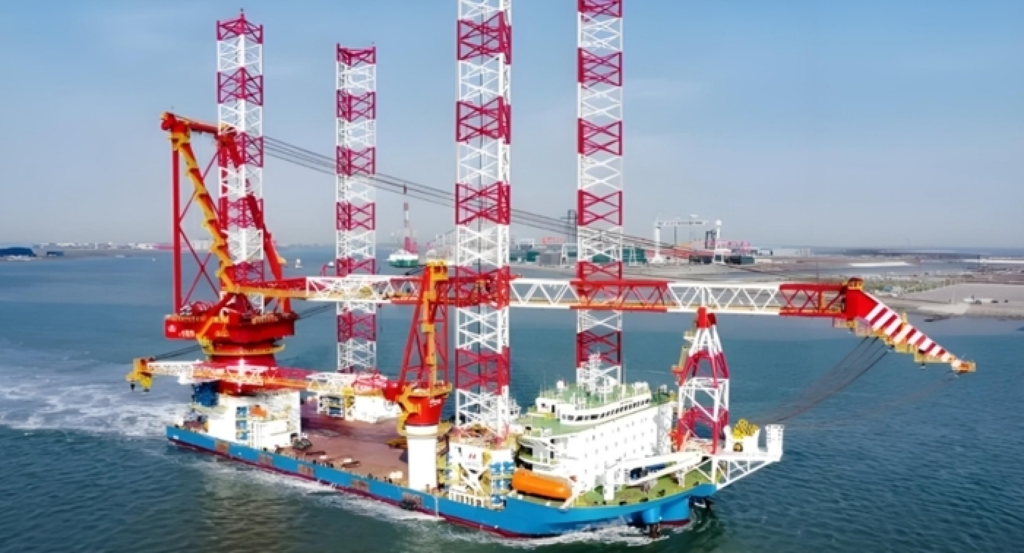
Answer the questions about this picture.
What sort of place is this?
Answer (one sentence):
This image shows a port.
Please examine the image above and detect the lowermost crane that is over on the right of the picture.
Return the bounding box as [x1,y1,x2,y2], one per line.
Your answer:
[600,446,706,503]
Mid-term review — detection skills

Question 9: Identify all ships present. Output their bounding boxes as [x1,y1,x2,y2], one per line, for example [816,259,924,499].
[389,189,419,267]
[166,0,781,540]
